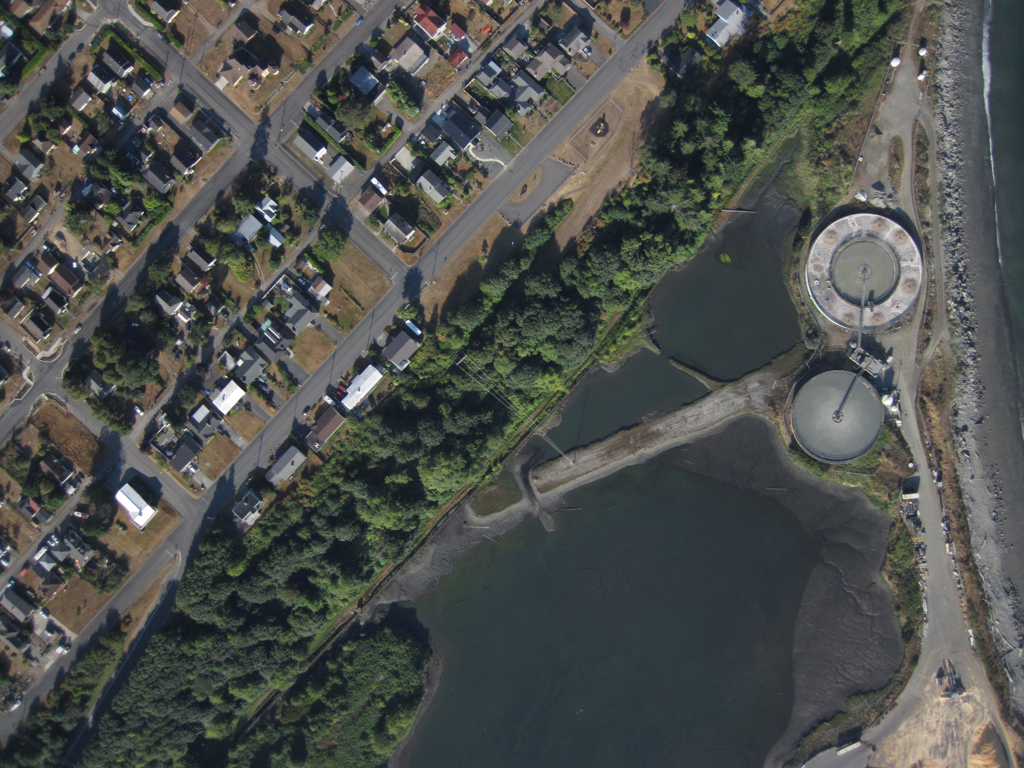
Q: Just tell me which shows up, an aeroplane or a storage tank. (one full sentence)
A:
Visible in the photo is a storage tank.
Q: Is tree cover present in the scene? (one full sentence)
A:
Yes, there's tree cover in this view.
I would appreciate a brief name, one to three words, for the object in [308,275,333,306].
building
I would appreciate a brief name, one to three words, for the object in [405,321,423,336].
camper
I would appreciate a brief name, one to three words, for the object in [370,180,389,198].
camper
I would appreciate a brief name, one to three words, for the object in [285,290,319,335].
house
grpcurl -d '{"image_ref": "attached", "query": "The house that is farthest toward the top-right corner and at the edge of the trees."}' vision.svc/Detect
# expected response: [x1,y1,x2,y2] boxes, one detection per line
[705,0,746,50]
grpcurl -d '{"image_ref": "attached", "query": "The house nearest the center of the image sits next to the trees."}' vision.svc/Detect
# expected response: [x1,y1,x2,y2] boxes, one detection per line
[385,331,420,367]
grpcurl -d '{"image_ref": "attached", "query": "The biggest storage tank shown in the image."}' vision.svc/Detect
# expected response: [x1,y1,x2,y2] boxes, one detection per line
[805,214,923,329]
